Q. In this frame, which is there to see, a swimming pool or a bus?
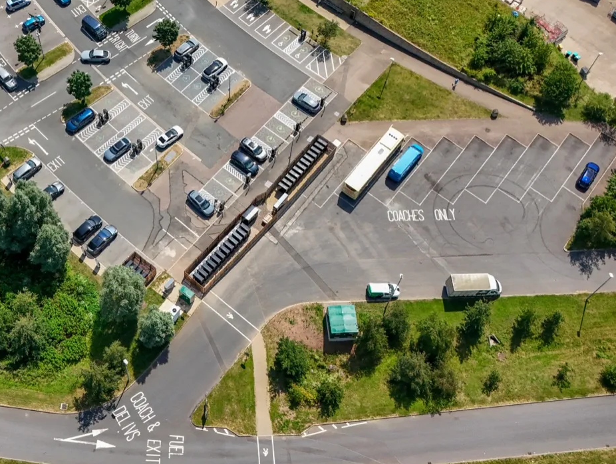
bus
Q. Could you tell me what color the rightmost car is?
blue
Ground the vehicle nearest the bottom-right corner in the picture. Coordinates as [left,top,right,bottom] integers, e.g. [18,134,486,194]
[443,273,501,299]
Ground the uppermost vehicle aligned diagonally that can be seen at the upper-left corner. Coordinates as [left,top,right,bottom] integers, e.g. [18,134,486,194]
[82,12,109,42]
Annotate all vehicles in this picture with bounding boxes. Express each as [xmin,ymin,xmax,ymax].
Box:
[153,124,187,151]
[443,273,501,299]
[291,90,324,115]
[362,281,402,300]
[201,55,229,79]
[65,109,95,132]
[184,188,217,217]
[79,48,112,63]
[84,223,120,256]
[69,214,105,245]
[20,16,47,30]
[2,0,35,13]
[0,63,19,94]
[338,125,410,208]
[575,162,600,191]
[229,150,259,175]
[172,37,201,60]
[58,0,71,6]
[82,12,109,42]
[101,136,136,162]
[9,155,44,178]
[236,133,270,161]
[385,143,423,183]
